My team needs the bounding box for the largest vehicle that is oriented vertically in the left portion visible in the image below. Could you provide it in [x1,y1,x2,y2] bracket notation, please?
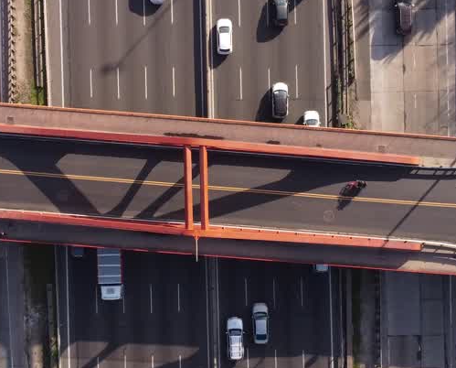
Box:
[97,248,121,299]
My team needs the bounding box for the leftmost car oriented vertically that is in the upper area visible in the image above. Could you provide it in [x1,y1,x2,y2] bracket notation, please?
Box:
[216,19,233,56]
